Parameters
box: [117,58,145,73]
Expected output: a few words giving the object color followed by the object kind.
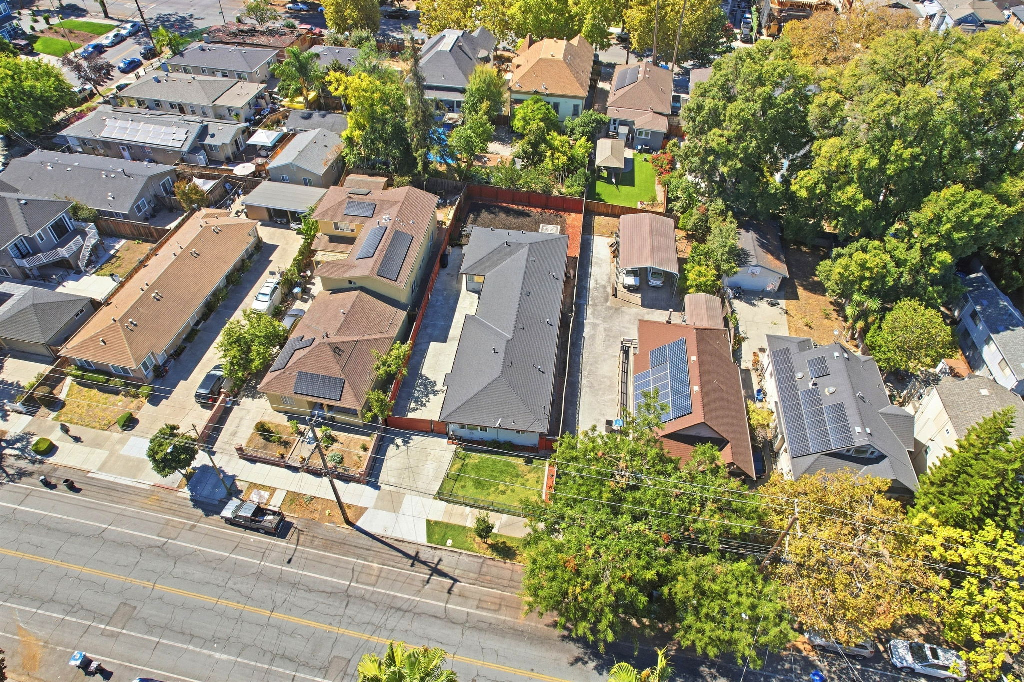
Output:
blue car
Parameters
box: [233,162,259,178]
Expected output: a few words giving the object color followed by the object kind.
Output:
white umbrella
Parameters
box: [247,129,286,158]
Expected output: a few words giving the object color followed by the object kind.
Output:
white tent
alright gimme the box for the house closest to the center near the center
[439,226,570,448]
